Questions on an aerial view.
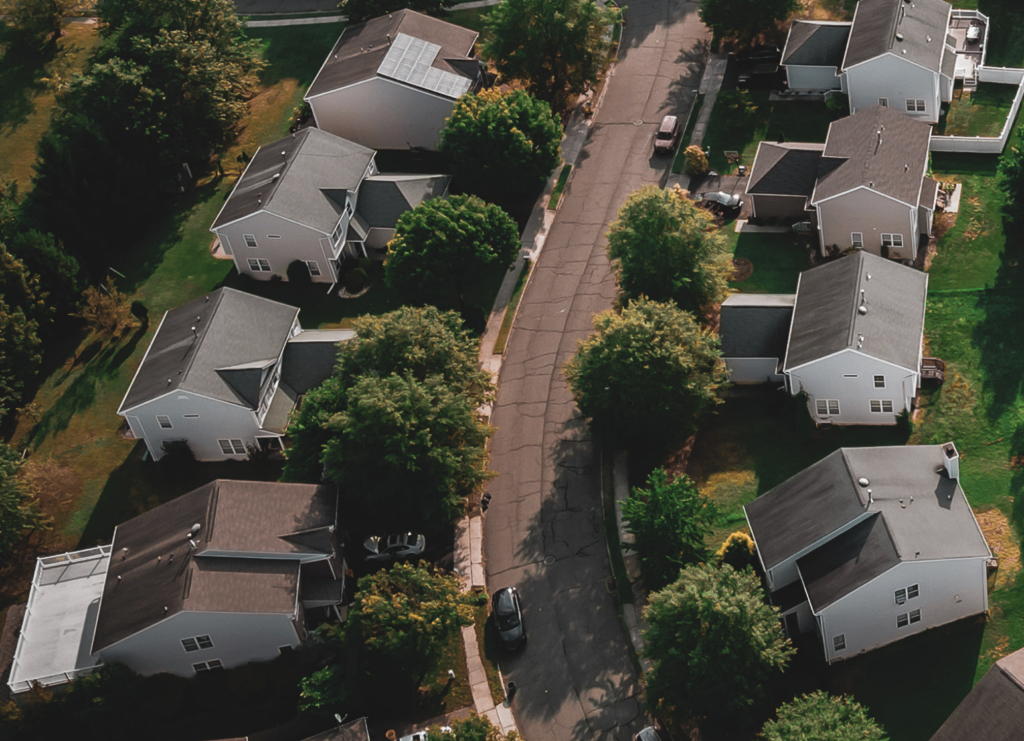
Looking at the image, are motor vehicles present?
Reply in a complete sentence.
Yes, a motor vehicle appears in the view.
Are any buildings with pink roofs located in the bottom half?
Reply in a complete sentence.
No, no building with a pink roof appears in the bottom half.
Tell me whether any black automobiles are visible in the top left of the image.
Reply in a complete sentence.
No, no black automobile is visible in the top left of the image.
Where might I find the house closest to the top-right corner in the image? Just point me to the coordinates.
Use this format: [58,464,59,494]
[780,0,961,122]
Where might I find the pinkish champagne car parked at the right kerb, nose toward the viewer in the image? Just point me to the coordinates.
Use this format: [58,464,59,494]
[651,114,683,158]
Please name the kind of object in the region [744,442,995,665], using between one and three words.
house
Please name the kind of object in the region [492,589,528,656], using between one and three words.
car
